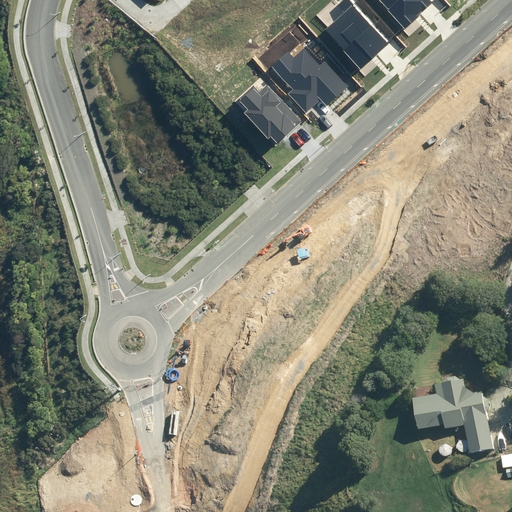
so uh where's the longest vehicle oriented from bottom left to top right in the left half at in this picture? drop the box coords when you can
[174,338,194,357]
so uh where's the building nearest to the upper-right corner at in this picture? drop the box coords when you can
[378,0,432,36]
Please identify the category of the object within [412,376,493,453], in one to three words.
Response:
house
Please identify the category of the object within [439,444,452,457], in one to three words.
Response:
umbrella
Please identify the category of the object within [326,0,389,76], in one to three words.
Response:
house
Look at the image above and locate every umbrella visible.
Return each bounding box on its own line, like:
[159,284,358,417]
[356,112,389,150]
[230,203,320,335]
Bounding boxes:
[439,444,452,457]
[456,441,466,453]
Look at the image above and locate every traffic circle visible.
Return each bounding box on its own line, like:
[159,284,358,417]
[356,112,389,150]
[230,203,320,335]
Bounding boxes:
[108,316,157,365]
